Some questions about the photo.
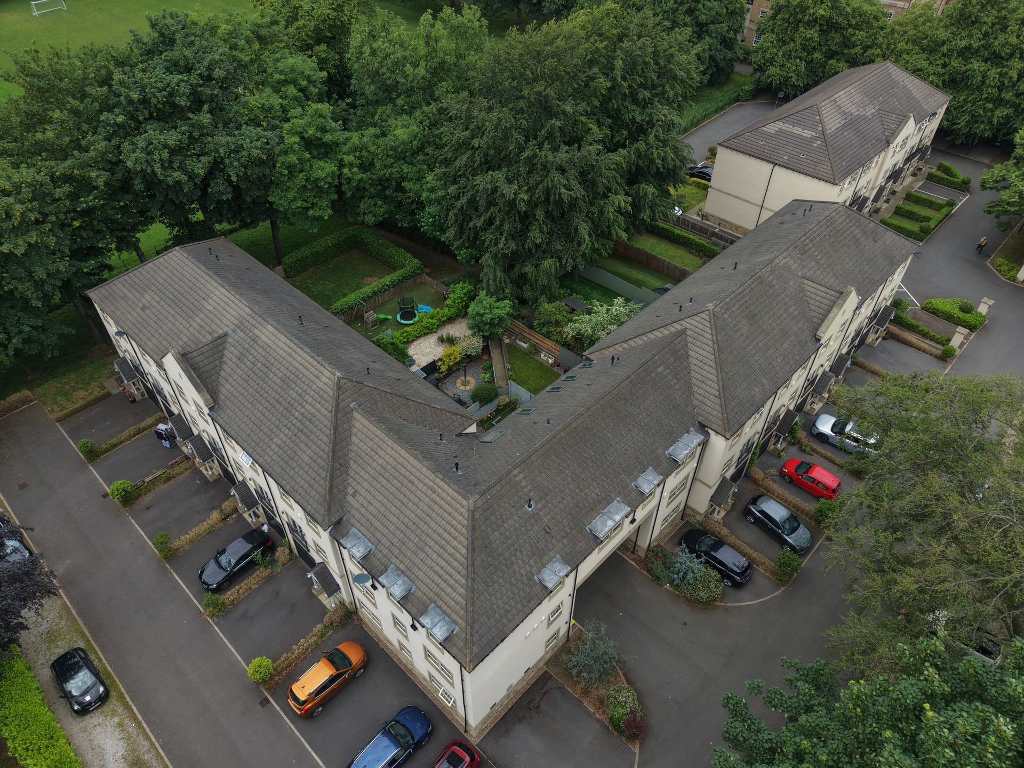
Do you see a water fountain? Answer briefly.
No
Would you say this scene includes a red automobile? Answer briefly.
Yes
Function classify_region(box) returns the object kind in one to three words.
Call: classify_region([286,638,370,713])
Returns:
car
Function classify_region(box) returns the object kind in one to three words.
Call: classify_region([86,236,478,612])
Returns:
building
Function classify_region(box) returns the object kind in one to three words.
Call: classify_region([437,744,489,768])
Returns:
car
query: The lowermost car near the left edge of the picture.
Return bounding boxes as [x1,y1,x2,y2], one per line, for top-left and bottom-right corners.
[47,647,109,713]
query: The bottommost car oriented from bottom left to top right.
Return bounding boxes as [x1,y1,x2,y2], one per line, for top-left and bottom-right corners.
[343,698,434,768]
